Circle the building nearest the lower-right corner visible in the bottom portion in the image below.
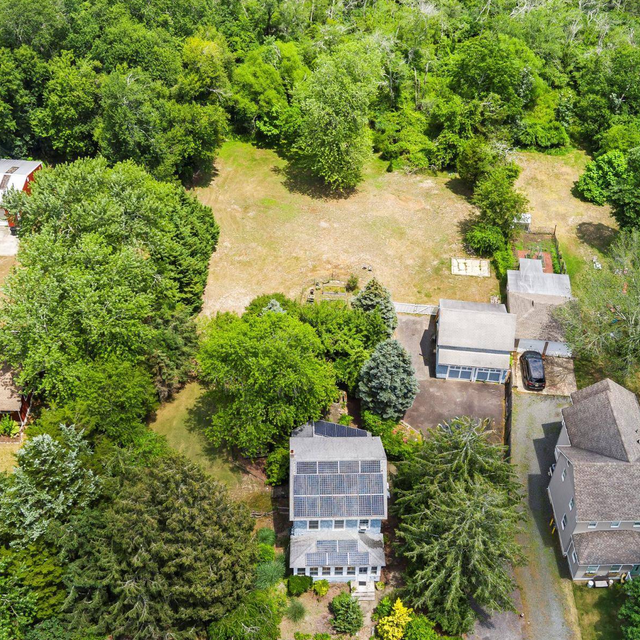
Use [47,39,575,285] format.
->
[540,376,640,580]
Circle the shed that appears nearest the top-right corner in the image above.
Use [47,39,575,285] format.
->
[515,211,537,234]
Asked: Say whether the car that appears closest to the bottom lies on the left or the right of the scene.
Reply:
right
